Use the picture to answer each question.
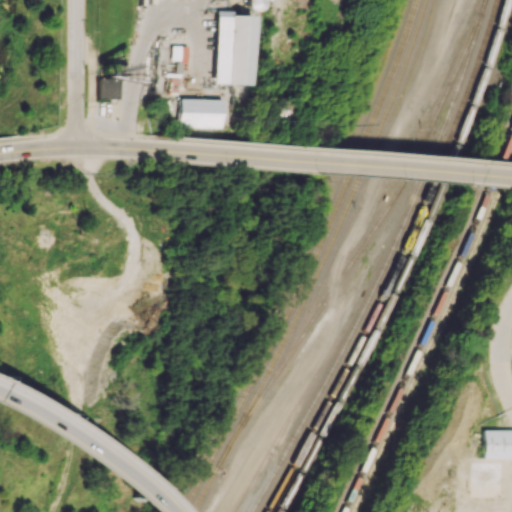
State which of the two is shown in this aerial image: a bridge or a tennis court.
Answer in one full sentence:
This aerial view contains a bridge.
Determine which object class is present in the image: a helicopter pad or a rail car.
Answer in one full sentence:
The one in the frame is a rail car.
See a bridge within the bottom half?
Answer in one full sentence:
Yes, looking within the bottom half, one can make out a bridge.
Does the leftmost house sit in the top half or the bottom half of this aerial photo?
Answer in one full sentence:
The top half of the photo is where the leftmost house is.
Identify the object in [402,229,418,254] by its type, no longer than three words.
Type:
rail car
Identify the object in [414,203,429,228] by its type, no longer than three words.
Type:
rail car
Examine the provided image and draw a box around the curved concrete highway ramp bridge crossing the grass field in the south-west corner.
[0,372,196,512]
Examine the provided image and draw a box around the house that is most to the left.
[98,77,122,100]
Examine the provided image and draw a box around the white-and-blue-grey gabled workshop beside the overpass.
[180,98,226,130]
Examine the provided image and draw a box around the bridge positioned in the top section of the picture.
[109,134,512,187]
